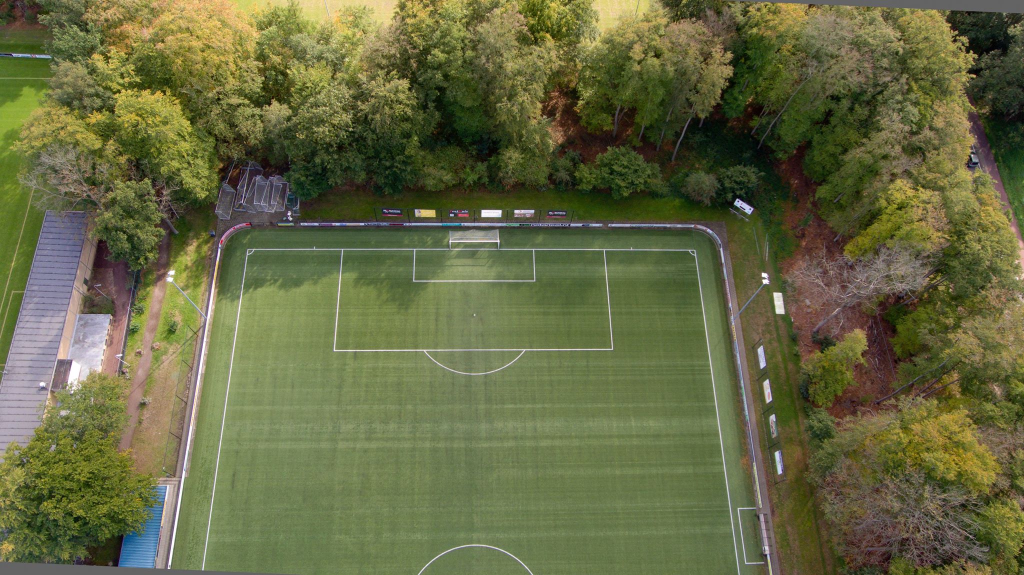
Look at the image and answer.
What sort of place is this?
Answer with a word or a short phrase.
sports ground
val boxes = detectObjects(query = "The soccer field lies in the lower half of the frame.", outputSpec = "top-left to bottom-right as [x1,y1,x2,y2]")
[173,228,766,575]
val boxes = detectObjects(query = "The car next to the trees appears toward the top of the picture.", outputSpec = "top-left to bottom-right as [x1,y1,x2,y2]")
[962,150,981,172]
